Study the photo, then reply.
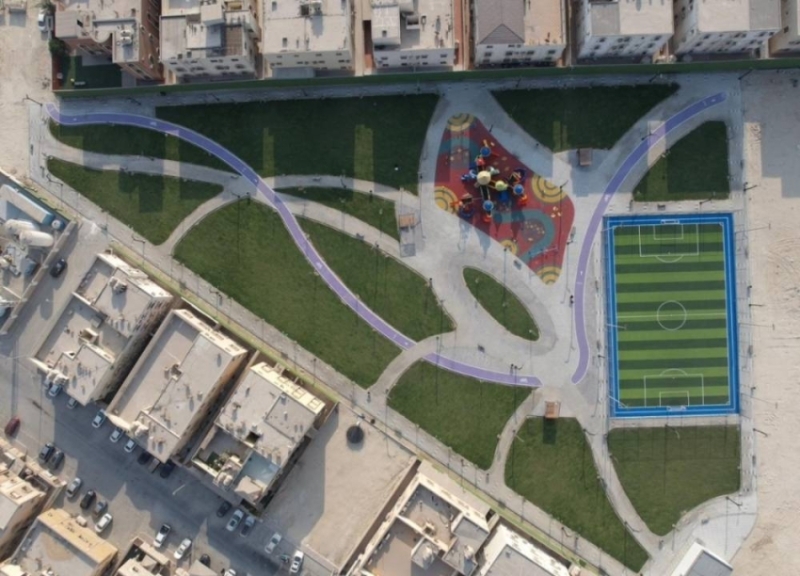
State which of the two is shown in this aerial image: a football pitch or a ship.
football pitch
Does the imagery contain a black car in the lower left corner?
Yes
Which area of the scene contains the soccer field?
right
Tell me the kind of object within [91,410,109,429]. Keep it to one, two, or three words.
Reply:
car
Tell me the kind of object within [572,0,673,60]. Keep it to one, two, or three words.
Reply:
building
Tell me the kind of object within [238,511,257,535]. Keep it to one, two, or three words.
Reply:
vehicle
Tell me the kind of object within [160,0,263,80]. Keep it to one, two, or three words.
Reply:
building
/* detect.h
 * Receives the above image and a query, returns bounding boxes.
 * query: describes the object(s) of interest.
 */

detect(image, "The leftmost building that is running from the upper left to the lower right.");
[0,184,60,225]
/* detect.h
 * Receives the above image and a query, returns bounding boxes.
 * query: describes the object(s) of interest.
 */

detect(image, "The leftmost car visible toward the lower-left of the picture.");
[2,417,22,438]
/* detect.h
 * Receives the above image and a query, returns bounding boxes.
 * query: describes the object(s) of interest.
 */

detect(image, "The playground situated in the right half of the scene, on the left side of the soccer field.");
[434,112,575,285]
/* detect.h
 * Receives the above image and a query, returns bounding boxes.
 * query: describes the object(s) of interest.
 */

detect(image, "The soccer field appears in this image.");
[605,213,738,417]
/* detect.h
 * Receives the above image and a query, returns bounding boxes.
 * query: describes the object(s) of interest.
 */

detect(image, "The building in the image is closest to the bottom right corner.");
[670,542,733,576]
